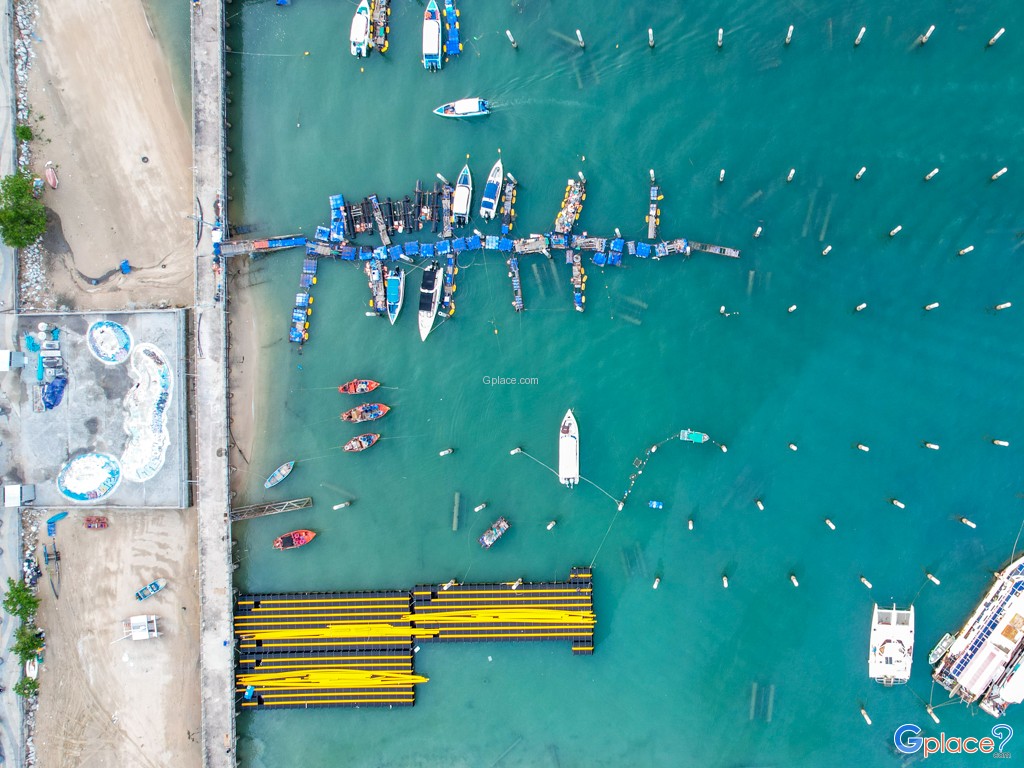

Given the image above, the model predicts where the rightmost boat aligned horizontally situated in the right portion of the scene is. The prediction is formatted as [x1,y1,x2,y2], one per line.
[679,430,709,443]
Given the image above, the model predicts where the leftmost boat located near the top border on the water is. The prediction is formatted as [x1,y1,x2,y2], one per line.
[349,0,371,61]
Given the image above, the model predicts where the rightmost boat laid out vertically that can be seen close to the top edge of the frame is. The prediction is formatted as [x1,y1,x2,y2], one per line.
[422,0,442,73]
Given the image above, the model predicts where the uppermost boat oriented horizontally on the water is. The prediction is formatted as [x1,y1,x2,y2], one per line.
[433,97,494,117]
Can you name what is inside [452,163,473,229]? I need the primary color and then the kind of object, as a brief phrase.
white boat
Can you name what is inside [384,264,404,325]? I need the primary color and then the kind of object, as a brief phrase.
blue boat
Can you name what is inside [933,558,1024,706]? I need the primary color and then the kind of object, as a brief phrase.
white ship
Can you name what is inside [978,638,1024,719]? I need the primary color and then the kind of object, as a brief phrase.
white boat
